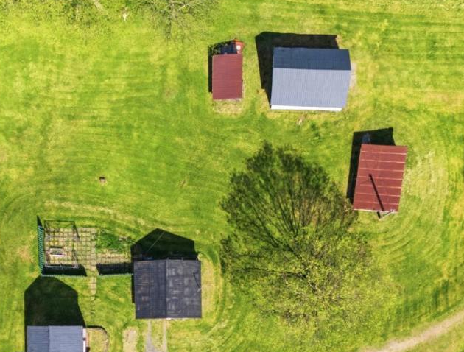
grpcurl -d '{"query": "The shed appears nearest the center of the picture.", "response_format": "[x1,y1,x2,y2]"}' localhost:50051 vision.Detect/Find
[212,53,243,104]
